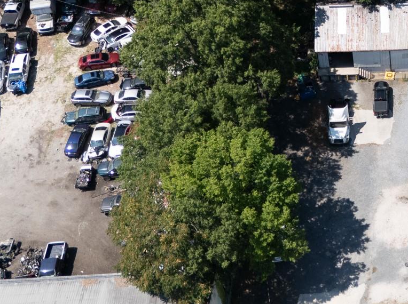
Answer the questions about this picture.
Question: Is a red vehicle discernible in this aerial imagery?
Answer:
Yes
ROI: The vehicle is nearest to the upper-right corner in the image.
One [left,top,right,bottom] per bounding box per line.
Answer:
[373,79,392,116]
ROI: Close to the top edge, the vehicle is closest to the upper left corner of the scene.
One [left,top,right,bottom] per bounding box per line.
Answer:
[1,0,27,28]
